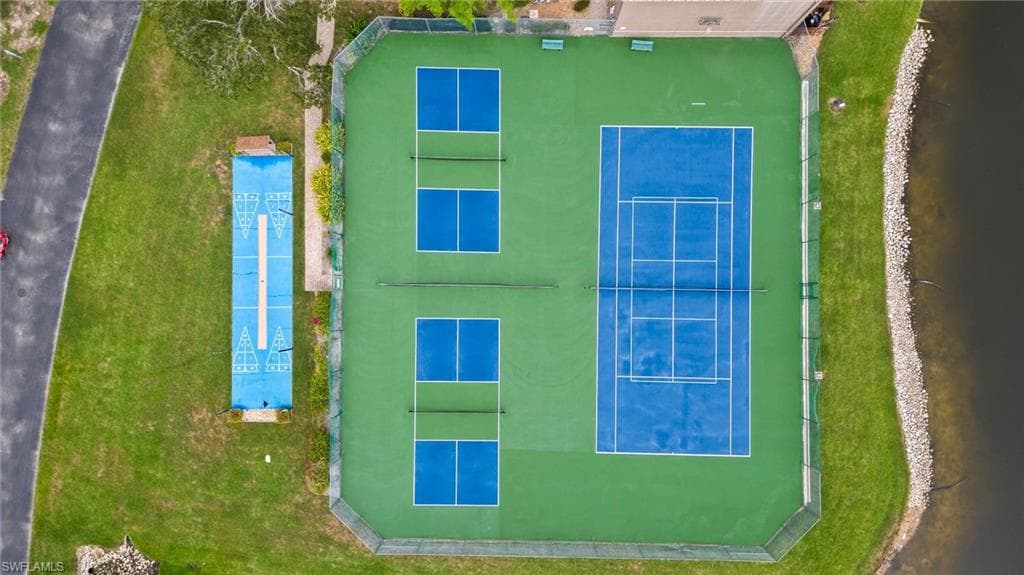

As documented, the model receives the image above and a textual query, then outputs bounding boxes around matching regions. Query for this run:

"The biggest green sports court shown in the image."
[342,33,802,546]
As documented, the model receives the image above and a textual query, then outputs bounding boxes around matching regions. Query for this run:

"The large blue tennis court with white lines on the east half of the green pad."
[596,125,753,457]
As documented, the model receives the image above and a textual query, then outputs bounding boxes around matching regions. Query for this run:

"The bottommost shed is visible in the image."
[235,137,276,155]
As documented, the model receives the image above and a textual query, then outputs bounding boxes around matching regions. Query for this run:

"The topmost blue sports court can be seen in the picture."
[416,67,501,253]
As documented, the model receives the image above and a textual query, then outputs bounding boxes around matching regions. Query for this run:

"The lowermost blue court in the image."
[413,318,500,506]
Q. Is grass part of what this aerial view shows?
Yes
